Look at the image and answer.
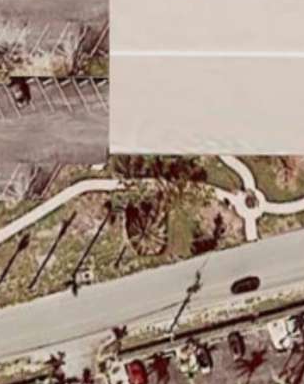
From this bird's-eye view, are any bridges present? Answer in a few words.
No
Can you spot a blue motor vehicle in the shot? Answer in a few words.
No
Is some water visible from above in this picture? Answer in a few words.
No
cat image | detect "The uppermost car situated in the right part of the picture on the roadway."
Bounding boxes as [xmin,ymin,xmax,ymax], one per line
[230,276,259,293]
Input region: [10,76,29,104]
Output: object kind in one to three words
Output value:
car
